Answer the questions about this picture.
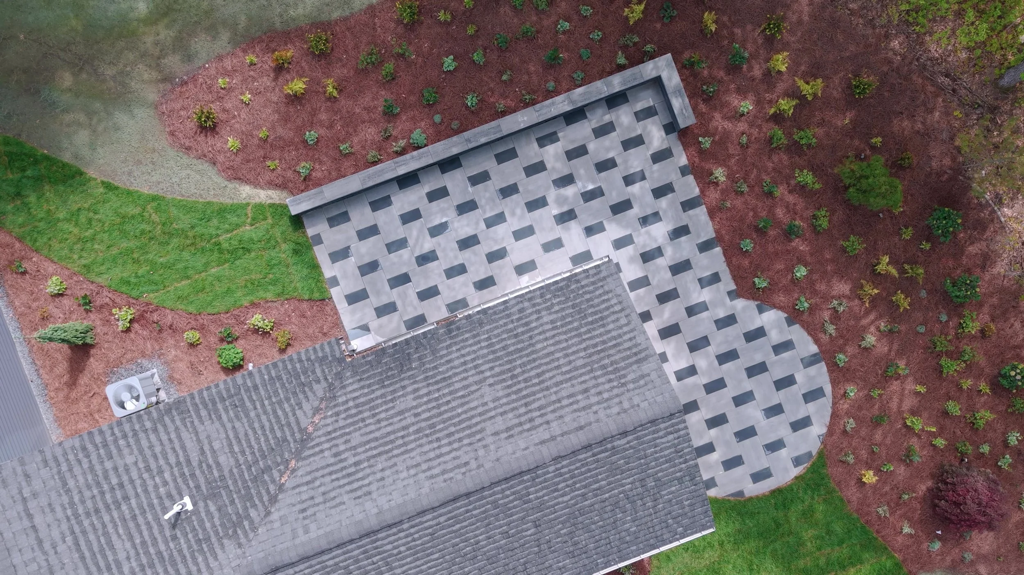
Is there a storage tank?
No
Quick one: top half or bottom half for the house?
bottom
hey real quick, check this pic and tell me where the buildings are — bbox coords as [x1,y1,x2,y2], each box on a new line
[0,256,715,575]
